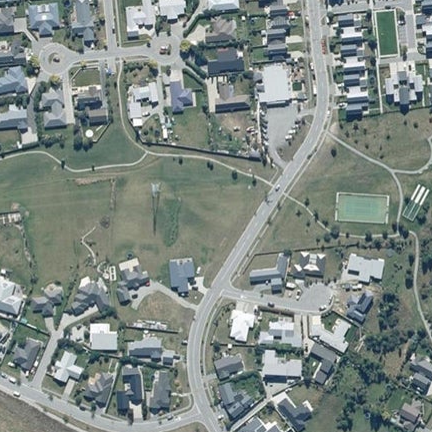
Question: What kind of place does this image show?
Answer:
residential area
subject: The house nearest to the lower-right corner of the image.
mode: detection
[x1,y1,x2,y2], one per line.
[400,400,424,431]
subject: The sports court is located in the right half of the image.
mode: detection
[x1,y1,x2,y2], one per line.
[336,193,390,223]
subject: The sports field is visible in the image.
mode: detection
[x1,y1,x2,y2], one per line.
[377,9,399,58]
